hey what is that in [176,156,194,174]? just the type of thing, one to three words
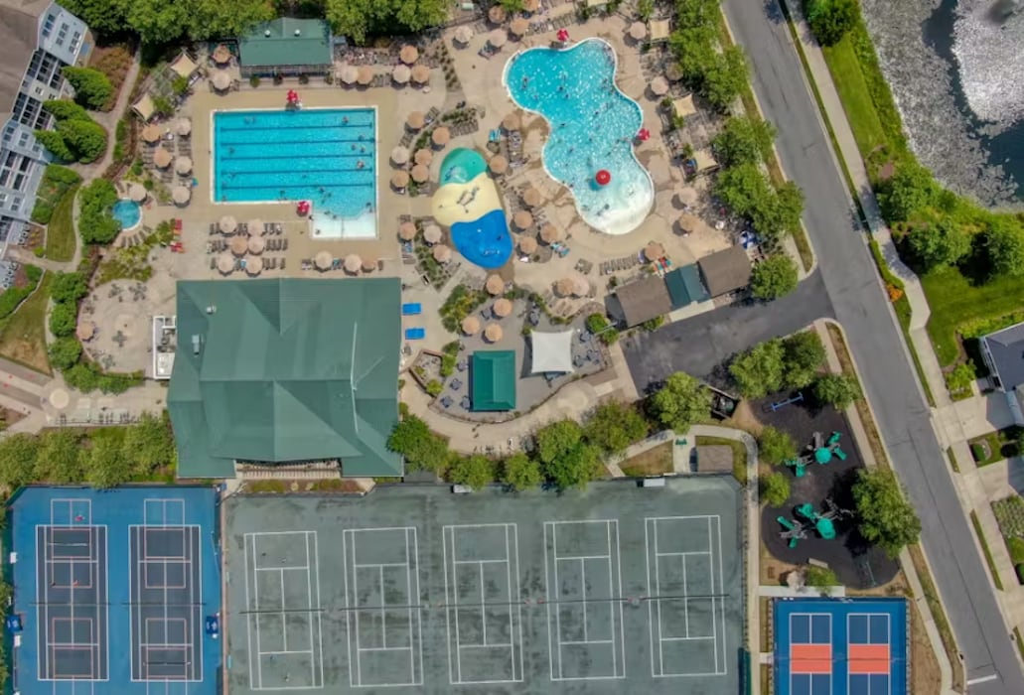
umbrella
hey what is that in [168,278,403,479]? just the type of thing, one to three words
building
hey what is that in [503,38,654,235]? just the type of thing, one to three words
swimming pool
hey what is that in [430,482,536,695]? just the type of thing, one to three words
tennis court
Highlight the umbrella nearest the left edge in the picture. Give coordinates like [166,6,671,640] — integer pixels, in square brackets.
[78,321,97,340]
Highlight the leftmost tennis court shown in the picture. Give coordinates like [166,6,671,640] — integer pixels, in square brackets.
[14,489,119,695]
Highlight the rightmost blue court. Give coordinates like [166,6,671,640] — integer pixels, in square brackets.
[840,599,907,695]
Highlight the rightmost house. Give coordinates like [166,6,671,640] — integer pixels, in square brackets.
[978,321,1024,427]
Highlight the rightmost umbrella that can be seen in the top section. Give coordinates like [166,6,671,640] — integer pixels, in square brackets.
[738,232,754,248]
